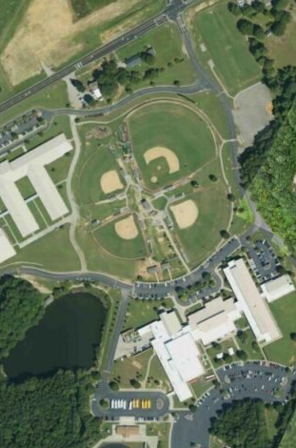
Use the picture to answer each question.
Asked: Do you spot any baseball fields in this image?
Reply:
Yes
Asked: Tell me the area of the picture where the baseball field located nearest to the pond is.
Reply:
center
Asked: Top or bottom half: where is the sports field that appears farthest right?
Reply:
top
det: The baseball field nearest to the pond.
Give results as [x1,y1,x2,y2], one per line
[91,211,147,260]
